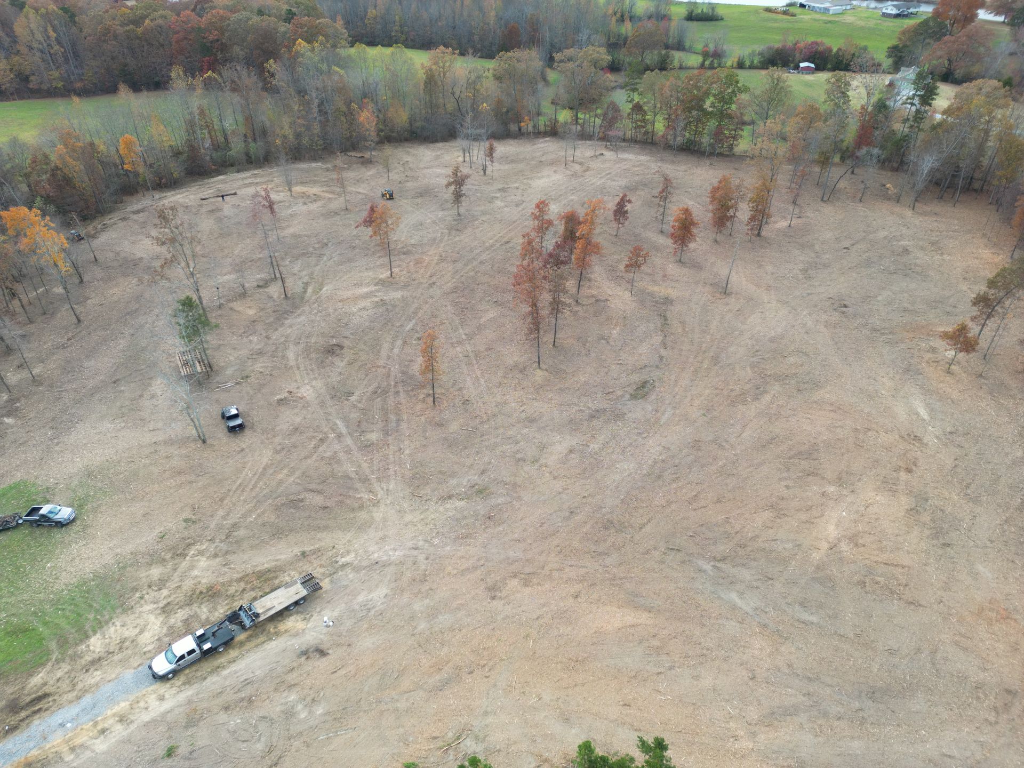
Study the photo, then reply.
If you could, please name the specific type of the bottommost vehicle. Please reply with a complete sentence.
In the photo, the bottommost vehicle shows up as a truck.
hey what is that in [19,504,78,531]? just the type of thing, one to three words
truck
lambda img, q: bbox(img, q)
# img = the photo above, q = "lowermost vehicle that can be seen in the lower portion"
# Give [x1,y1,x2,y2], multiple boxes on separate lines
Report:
[147,619,235,682]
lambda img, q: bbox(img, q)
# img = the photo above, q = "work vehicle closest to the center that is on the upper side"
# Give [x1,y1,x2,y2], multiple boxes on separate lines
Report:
[375,188,394,201]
